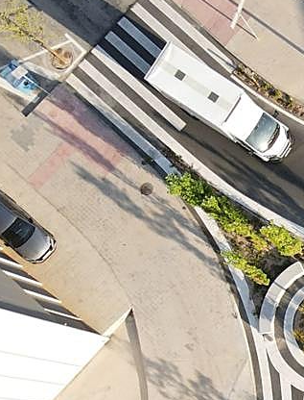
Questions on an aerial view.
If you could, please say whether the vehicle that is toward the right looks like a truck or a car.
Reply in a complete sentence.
It looks like the vehicle that is toward the right is a truck.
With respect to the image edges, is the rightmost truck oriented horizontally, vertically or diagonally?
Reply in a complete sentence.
The rightmost truck is oriented diagonally.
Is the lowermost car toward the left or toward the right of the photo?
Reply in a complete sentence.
It is on the left.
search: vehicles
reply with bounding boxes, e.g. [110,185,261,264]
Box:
[0,190,57,261]
[146,47,295,171]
